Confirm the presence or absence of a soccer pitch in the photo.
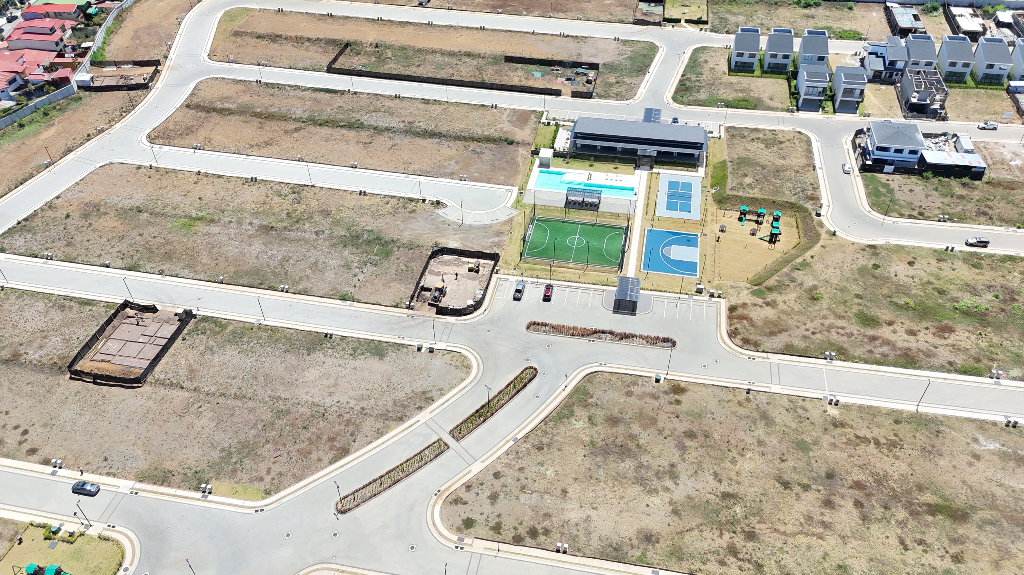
Yes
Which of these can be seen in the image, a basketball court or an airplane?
basketball court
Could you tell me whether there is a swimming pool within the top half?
Yes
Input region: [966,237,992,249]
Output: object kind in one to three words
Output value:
vehicle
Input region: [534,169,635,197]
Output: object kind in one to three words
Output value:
swimming pool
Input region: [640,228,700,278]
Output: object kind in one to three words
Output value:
basketball court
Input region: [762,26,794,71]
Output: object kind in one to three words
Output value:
house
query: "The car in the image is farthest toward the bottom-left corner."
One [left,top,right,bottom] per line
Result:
[70,480,98,499]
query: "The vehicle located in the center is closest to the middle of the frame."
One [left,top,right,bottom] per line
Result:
[512,282,524,300]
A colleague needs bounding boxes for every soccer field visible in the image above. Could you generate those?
[519,215,630,270]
